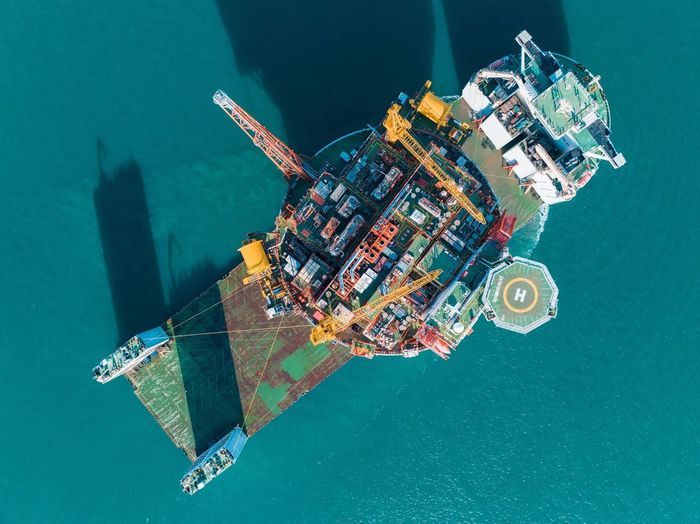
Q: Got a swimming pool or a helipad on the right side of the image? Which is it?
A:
helipad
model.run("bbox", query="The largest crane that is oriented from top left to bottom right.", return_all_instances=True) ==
[381,112,486,223]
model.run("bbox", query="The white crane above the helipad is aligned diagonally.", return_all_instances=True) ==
[532,144,575,197]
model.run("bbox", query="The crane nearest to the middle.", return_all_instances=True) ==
[305,270,443,344]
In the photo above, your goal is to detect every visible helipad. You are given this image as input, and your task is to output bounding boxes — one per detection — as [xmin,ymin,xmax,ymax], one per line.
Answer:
[481,255,560,333]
